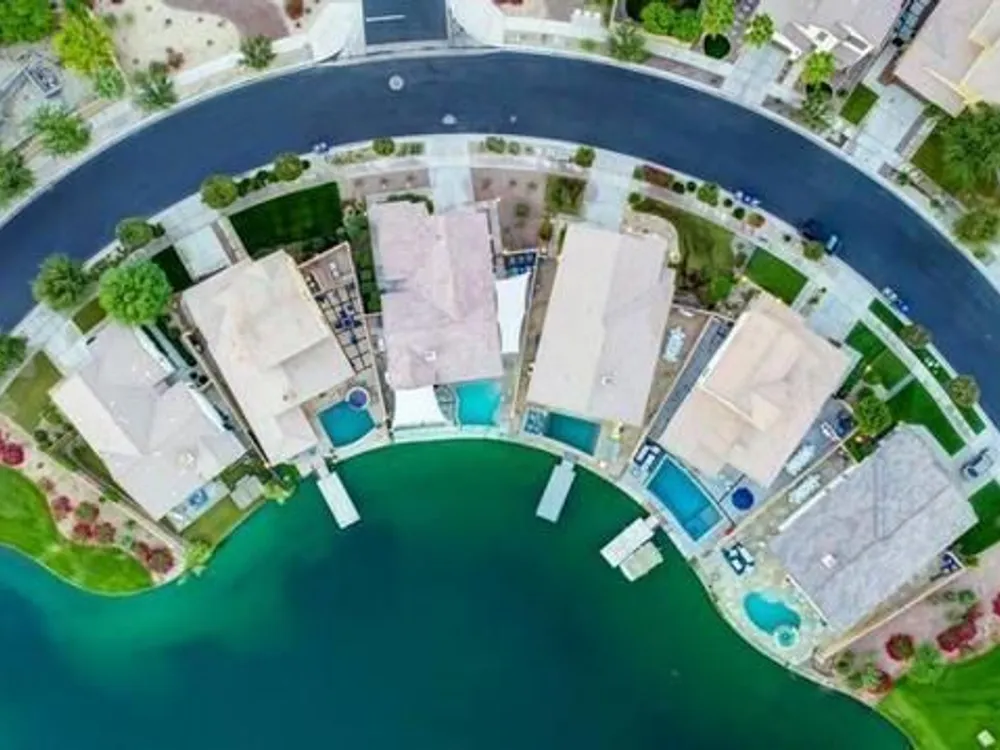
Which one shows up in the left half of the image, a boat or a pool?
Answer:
pool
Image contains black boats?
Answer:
No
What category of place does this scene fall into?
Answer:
residential area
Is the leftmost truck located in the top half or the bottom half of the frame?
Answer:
top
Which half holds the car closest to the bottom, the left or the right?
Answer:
right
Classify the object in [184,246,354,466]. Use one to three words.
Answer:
house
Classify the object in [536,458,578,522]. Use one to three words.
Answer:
pier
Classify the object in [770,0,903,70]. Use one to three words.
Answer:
house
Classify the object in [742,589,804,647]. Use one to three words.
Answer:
swimming pool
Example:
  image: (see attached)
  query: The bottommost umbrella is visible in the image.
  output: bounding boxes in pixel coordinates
[730,487,753,510]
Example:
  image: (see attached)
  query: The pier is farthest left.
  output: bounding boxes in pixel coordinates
[315,467,359,527]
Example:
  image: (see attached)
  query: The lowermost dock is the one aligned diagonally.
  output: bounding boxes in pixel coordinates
[602,514,656,565]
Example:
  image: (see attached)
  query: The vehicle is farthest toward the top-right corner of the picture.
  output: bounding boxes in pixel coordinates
[804,217,842,249]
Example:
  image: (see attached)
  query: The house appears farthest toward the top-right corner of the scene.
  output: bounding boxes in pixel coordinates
[893,0,1000,118]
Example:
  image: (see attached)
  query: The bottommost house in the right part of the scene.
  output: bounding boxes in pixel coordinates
[763,422,982,633]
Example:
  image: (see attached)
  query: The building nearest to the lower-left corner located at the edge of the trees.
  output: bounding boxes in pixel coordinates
[51,322,246,521]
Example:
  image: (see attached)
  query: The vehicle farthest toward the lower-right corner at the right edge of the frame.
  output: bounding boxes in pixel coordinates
[957,448,997,481]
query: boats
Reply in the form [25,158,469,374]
[619,541,662,582]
